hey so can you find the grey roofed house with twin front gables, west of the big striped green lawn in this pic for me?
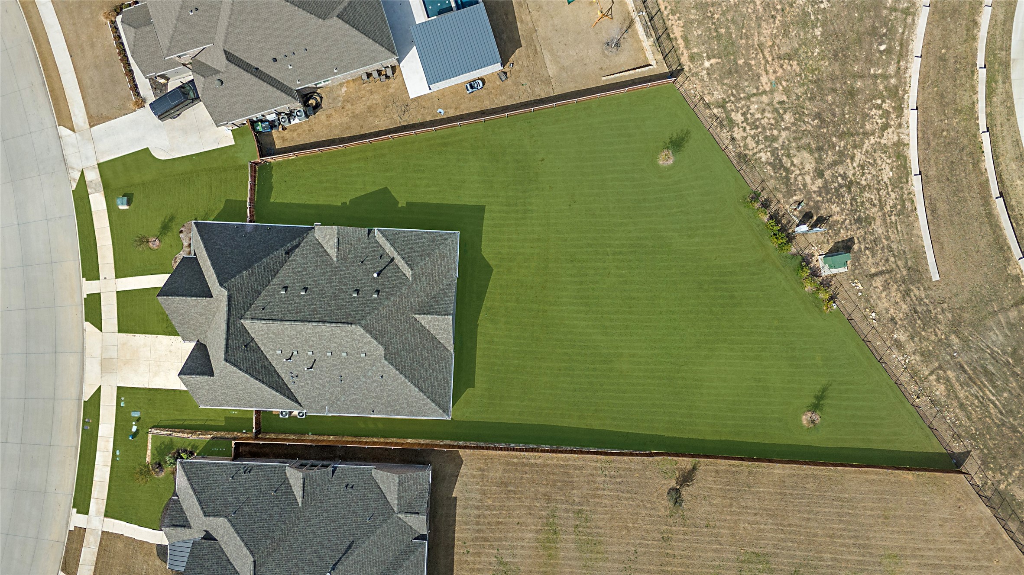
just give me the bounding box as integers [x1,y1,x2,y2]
[157,220,460,420]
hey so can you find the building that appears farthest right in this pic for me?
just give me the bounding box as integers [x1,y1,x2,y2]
[410,2,502,88]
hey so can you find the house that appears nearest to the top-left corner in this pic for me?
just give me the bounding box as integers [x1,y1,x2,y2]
[120,0,399,130]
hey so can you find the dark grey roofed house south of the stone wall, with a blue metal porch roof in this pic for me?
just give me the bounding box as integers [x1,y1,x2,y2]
[161,455,434,575]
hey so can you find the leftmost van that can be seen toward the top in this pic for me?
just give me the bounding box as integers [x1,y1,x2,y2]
[149,80,205,123]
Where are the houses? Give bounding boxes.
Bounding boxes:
[120,0,399,130]
[157,220,460,420]
[161,455,434,575]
